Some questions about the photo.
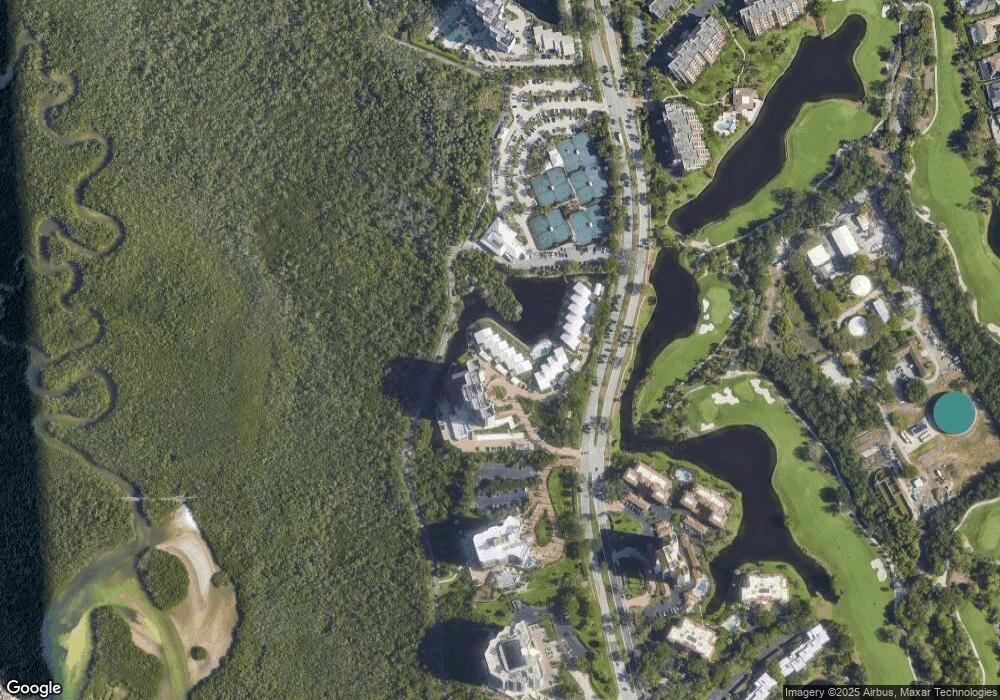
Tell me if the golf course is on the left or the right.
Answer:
right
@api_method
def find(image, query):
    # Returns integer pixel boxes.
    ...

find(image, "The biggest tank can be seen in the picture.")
[934,391,976,434]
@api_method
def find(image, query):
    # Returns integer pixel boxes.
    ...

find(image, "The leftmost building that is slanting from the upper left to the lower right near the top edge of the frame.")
[475,0,516,53]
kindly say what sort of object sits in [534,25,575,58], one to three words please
building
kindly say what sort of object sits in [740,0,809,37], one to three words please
building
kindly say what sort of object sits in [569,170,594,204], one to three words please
tennis court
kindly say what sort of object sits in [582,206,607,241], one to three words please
tennis court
